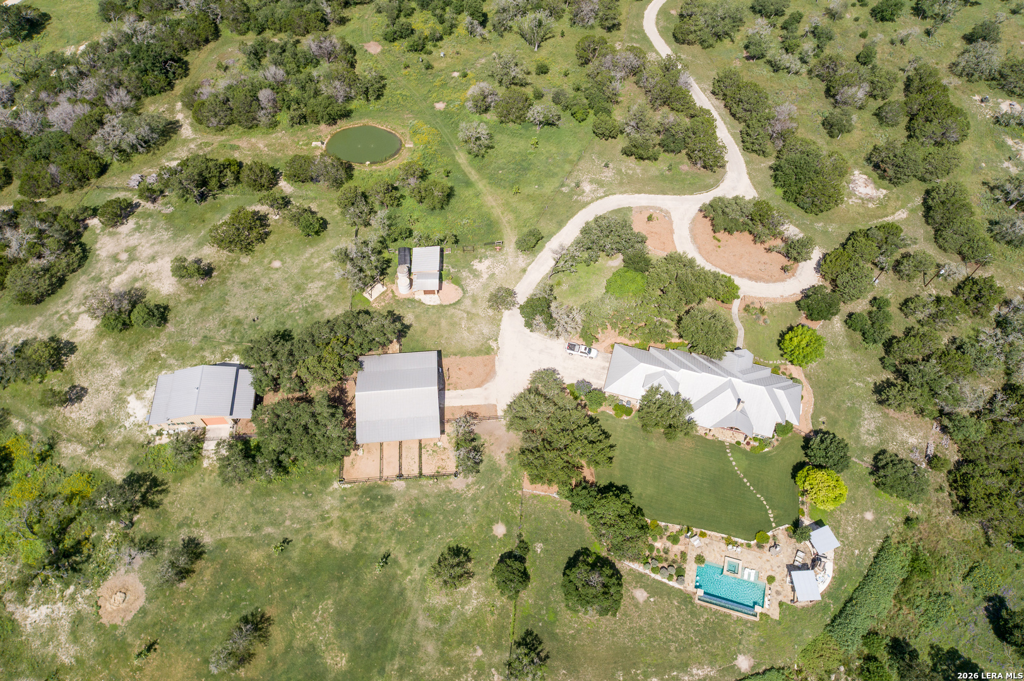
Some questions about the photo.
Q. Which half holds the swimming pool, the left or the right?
right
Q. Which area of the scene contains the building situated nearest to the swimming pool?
bottom right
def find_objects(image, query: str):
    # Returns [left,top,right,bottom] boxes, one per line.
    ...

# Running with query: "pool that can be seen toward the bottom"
[693,557,767,621]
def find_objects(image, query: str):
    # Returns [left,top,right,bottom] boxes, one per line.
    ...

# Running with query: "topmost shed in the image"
[411,245,440,300]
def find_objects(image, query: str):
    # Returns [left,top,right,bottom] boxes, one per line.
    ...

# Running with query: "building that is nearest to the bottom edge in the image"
[789,570,821,603]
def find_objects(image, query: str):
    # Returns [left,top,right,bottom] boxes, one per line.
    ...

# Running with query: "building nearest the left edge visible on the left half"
[147,364,262,428]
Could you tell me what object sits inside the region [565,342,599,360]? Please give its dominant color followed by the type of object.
white vehicle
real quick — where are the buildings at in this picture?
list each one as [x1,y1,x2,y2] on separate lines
[147,364,262,428]
[604,343,802,446]
[807,525,840,556]
[357,351,442,448]
[411,245,440,300]
[789,570,821,603]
